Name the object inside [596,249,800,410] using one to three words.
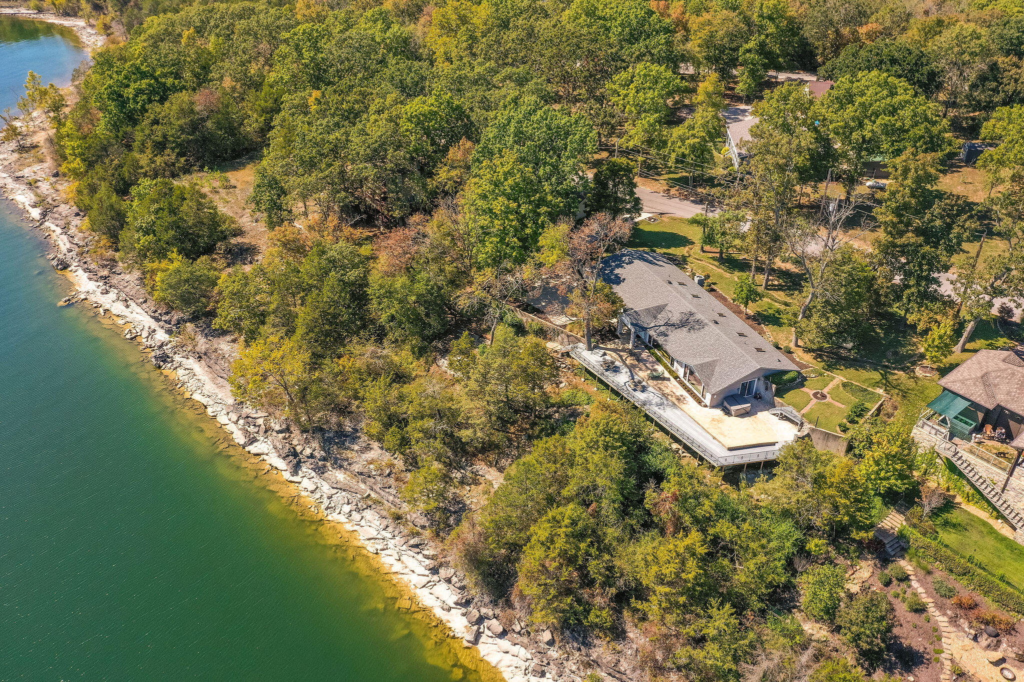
house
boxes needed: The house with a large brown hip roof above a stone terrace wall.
[937,349,1024,472]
